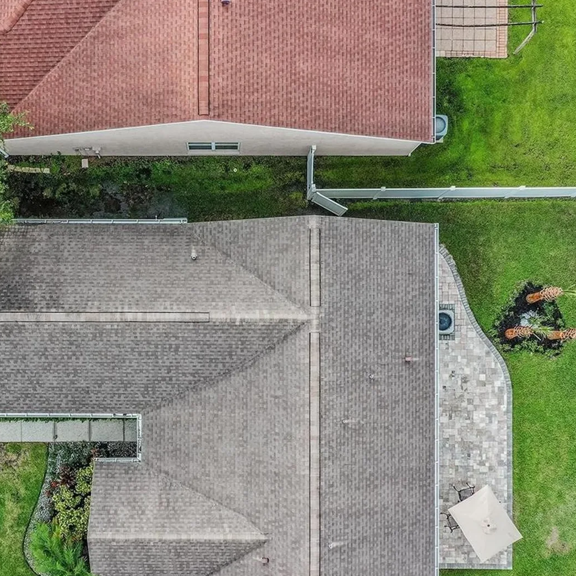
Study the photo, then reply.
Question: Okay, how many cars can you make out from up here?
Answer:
none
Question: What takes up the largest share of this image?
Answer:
buildings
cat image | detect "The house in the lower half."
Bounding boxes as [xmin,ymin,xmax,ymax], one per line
[0,213,440,576]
